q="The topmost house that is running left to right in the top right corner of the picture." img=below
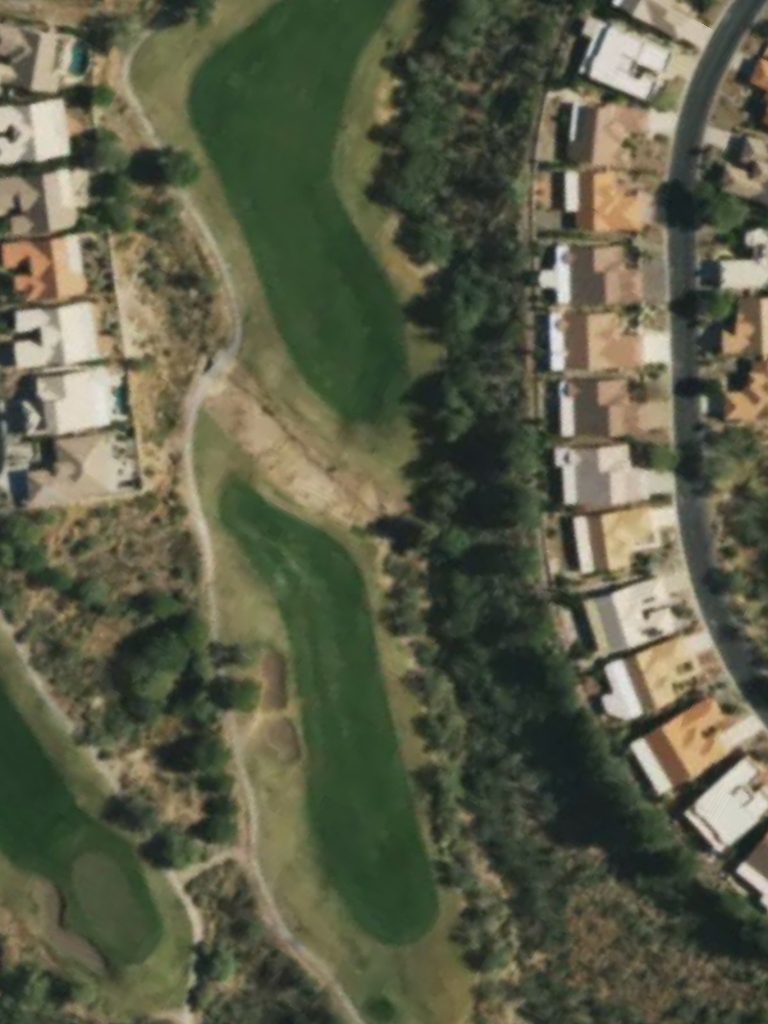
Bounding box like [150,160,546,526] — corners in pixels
[614,0,690,35]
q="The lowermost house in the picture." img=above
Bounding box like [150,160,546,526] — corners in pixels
[737,835,768,898]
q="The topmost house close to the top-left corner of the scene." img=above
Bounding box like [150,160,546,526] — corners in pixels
[0,20,66,92]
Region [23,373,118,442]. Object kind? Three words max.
house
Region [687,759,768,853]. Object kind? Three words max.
house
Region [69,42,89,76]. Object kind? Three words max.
swimming pool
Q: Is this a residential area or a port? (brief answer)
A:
residential area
